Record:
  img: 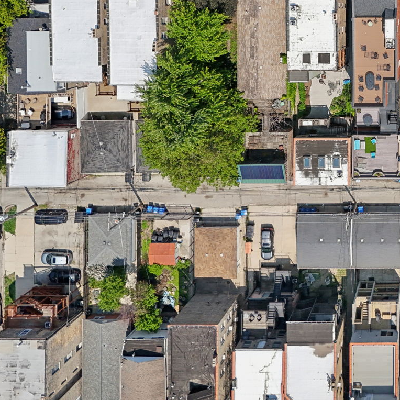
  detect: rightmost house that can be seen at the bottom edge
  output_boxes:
[350,316,400,400]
